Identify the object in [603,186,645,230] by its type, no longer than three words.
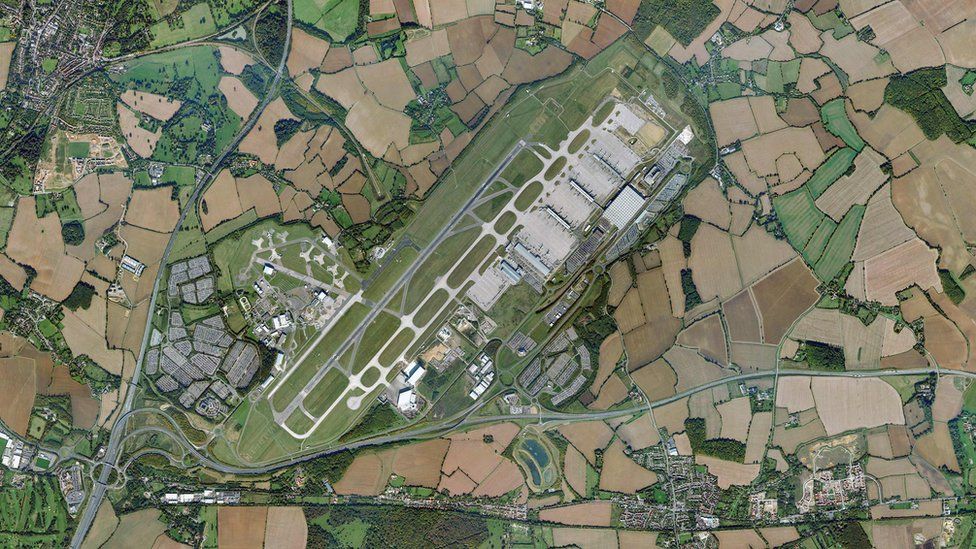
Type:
building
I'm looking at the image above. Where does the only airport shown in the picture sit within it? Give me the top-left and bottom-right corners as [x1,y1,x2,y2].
[221,42,698,462]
